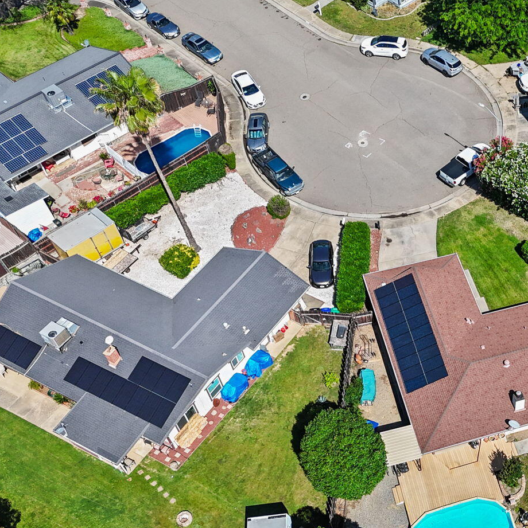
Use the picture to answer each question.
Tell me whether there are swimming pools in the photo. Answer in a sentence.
Yes, the picture does show a swimming pool.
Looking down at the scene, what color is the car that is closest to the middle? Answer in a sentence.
The color of the car that is closest to the middle is black.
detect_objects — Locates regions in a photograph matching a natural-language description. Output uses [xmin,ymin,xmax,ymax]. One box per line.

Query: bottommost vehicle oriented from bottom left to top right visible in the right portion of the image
[436,141,490,186]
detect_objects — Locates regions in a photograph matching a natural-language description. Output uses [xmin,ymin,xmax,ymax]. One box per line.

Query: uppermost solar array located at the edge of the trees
[76,64,131,107]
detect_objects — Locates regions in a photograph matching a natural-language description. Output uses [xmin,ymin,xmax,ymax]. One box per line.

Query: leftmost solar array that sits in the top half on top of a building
[0,112,46,162]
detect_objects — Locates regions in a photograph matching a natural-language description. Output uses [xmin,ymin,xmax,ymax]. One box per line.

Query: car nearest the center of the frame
[306,240,335,290]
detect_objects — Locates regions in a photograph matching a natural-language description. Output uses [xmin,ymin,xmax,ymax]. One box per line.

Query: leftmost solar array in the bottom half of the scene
[0,326,41,368]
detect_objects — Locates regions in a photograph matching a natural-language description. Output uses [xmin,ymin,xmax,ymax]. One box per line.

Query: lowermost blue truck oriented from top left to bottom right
[254,146,304,193]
